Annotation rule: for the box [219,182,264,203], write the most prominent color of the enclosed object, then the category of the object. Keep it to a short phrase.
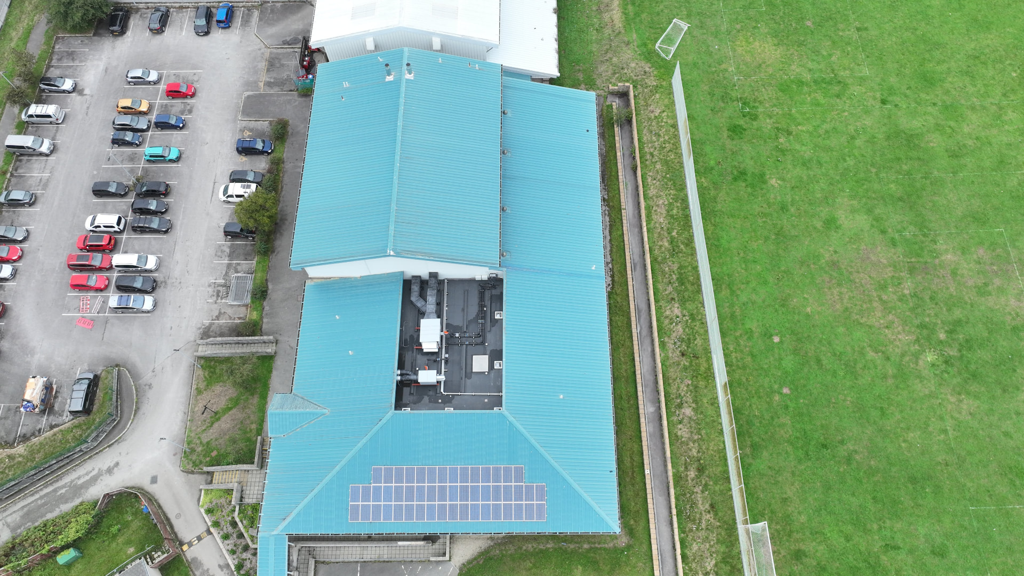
white vehicle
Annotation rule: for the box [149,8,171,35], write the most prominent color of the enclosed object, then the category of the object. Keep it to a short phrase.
gray car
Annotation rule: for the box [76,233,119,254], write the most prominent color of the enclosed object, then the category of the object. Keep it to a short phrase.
red car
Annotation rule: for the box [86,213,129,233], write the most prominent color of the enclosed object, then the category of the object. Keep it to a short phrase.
white car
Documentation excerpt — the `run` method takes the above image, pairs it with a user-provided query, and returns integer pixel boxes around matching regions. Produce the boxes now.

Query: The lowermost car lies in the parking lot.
[66,371,101,419]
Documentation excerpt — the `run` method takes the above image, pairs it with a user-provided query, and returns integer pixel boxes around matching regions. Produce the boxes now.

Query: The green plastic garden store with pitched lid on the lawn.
[54,545,84,568]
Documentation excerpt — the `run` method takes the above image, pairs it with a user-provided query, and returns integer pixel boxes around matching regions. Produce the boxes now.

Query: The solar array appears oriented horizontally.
[348,467,547,521]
